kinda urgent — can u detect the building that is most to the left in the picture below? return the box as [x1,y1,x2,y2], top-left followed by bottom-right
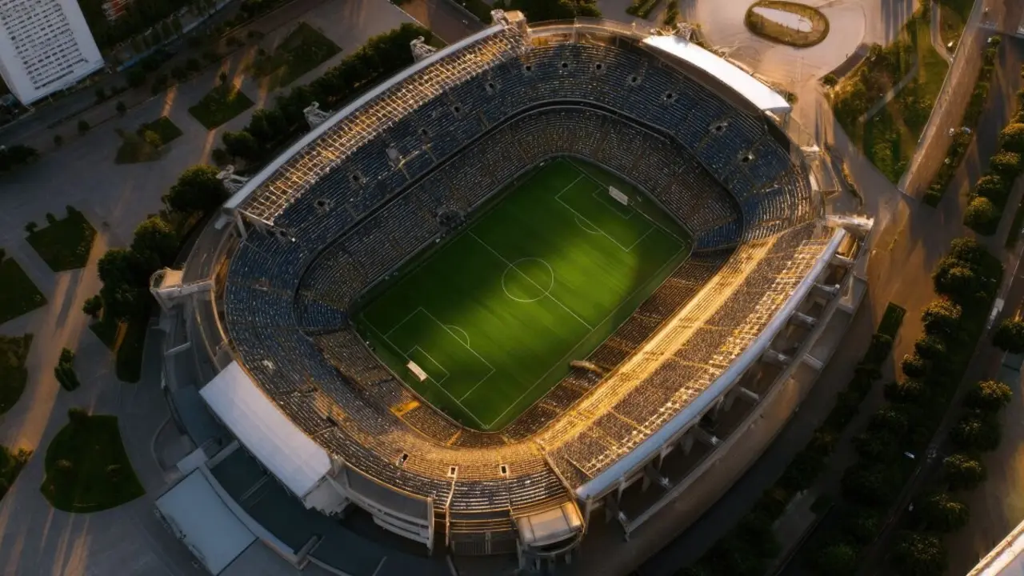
[0,0,102,106]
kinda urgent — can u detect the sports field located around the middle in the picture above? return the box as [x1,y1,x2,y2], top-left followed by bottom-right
[352,154,694,431]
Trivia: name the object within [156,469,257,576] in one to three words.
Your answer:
building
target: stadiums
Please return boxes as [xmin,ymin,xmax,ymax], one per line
[150,7,876,576]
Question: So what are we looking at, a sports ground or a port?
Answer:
sports ground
